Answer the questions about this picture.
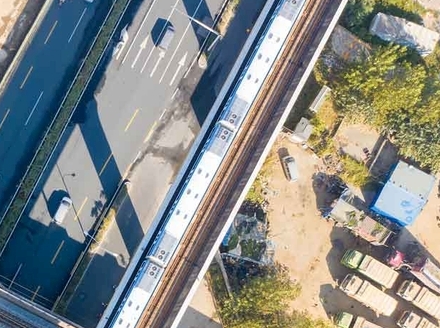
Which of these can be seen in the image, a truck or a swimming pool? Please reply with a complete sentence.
The image shows a truck.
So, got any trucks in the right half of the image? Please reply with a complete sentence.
Yes, in the right half of the image there is a truck.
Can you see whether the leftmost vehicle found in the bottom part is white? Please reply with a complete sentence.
Yes, the leftmost vehicle found in the bottom part is white.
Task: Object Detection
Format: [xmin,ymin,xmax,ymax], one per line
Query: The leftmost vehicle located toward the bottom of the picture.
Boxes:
[50,192,74,226]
